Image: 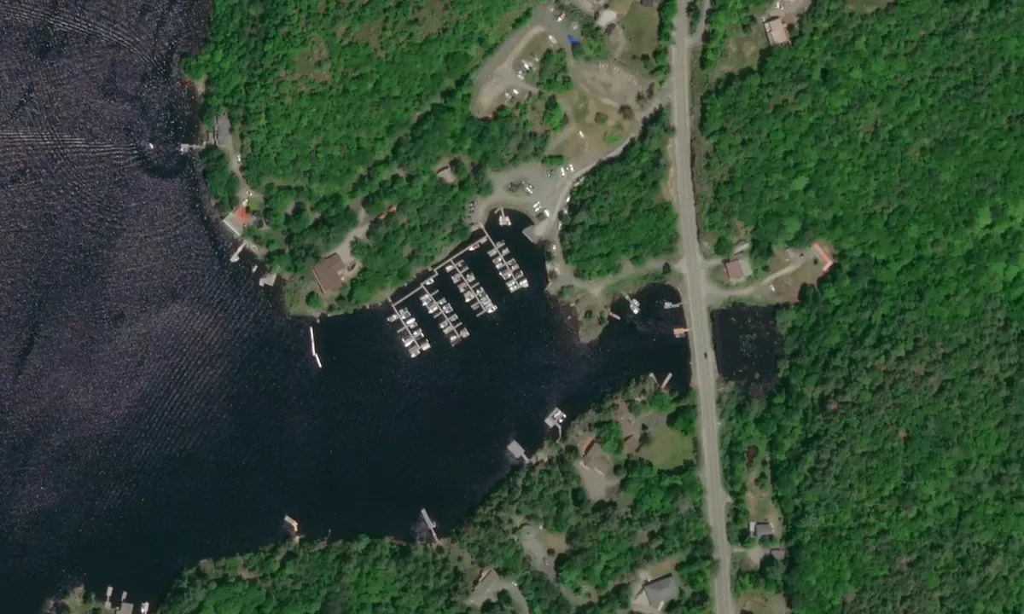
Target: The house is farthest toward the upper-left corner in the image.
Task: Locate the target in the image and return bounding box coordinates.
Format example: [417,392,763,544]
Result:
[208,115,233,144]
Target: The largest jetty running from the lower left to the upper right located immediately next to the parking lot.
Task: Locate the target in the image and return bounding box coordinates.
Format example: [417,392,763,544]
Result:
[388,235,488,307]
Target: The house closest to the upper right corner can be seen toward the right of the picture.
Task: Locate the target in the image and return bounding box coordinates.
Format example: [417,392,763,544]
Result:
[764,19,786,46]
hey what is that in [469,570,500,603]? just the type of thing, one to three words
house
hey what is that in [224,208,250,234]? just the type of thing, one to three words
house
